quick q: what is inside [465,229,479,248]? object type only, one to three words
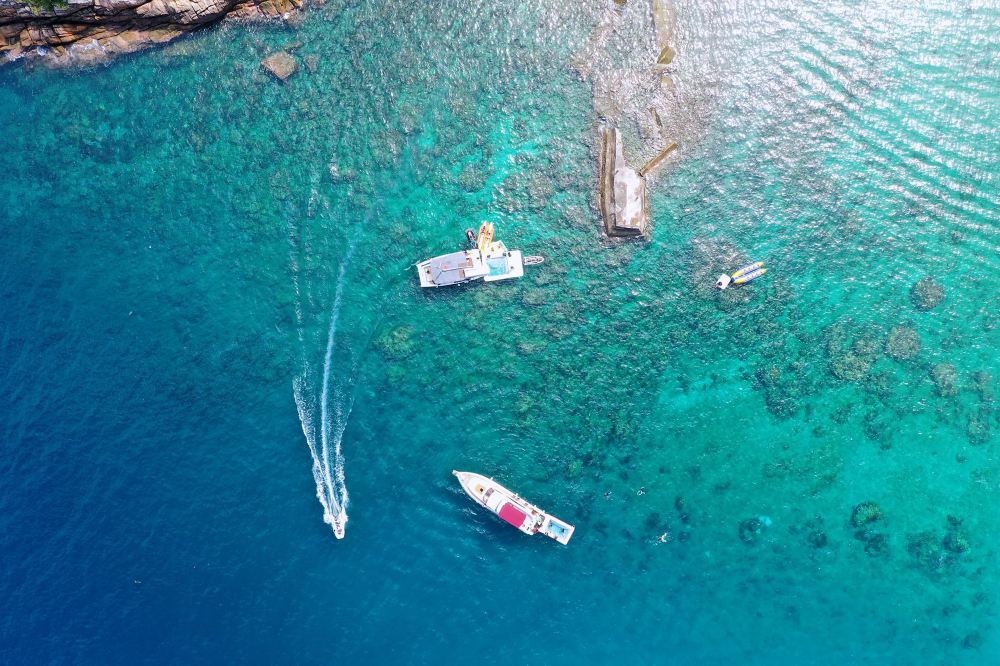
boat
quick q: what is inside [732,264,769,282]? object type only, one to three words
boat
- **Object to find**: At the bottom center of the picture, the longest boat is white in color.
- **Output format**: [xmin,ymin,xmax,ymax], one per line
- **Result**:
[450,472,546,535]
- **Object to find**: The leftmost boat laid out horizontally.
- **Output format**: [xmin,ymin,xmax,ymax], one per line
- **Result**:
[404,248,485,290]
